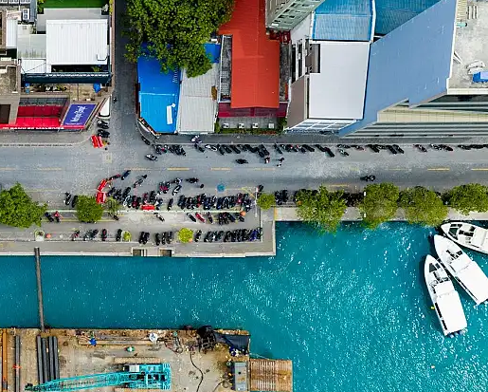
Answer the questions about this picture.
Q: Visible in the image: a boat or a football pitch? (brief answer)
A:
boat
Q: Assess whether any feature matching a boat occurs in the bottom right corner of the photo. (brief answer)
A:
Yes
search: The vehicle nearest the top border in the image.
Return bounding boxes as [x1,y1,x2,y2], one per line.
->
[100,92,112,119]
